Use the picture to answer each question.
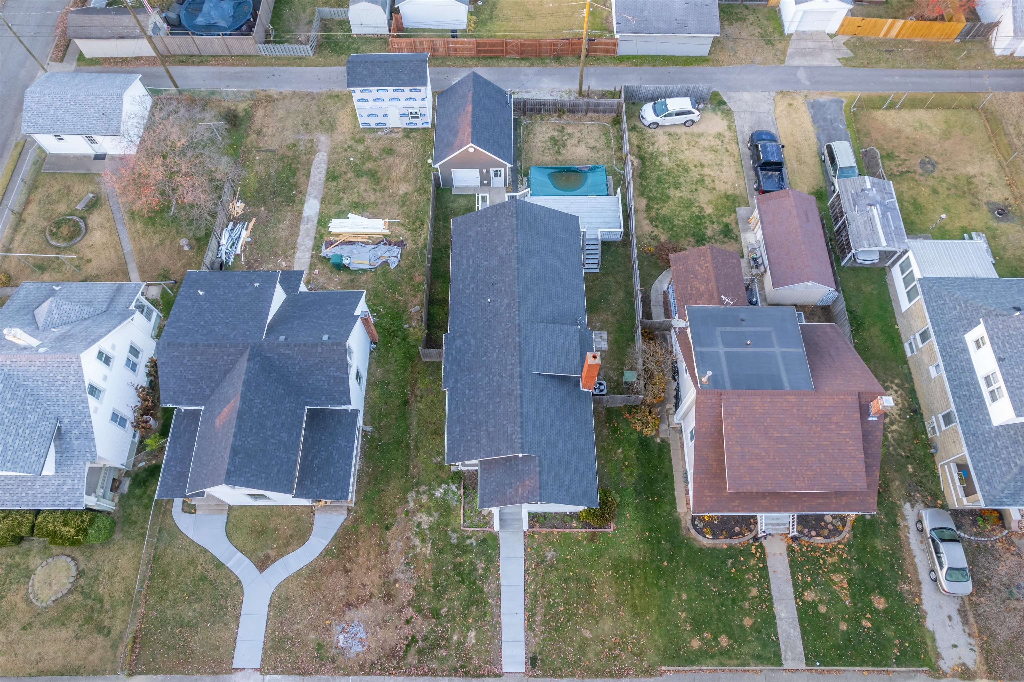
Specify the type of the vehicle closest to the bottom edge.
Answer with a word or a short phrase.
automobile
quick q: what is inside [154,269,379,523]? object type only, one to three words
house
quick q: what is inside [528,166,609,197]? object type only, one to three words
swimming pool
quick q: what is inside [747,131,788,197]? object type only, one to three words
truck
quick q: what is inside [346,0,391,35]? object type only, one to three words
shed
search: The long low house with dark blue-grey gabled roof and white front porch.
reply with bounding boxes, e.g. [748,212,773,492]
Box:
[441,198,602,532]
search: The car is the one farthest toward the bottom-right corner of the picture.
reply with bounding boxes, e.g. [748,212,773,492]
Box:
[919,510,977,601]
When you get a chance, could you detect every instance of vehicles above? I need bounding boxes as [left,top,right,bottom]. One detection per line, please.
[822,137,862,196]
[747,131,788,197]
[919,510,977,601]
[640,95,705,129]
[854,250,884,260]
